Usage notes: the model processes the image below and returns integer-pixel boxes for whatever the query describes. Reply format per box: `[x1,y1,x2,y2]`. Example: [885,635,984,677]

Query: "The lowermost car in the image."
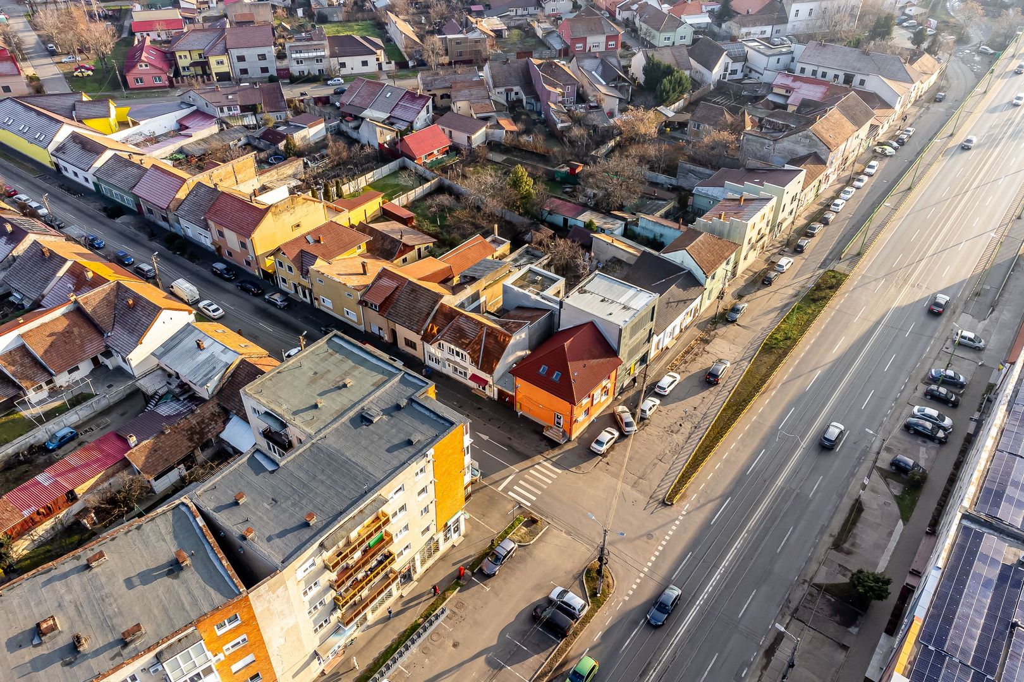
[562,649,600,682]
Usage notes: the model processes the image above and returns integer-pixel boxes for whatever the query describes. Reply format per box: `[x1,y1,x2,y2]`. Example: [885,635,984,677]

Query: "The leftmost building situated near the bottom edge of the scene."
[0,499,275,682]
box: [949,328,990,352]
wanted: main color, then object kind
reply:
gray car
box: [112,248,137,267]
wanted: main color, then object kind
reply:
blue car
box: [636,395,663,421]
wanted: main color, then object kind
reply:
white car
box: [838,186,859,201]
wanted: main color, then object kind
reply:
white car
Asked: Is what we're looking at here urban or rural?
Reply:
urban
